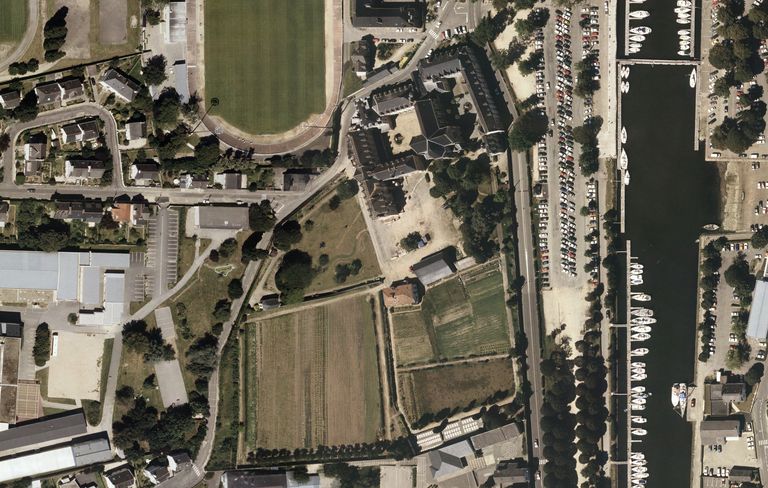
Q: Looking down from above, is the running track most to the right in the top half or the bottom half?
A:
top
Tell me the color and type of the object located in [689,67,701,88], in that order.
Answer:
white boat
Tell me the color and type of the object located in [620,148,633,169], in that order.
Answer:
white boat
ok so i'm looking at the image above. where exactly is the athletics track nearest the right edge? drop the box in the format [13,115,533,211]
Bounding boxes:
[187,0,344,156]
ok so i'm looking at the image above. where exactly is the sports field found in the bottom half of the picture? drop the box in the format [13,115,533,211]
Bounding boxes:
[48,333,105,401]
